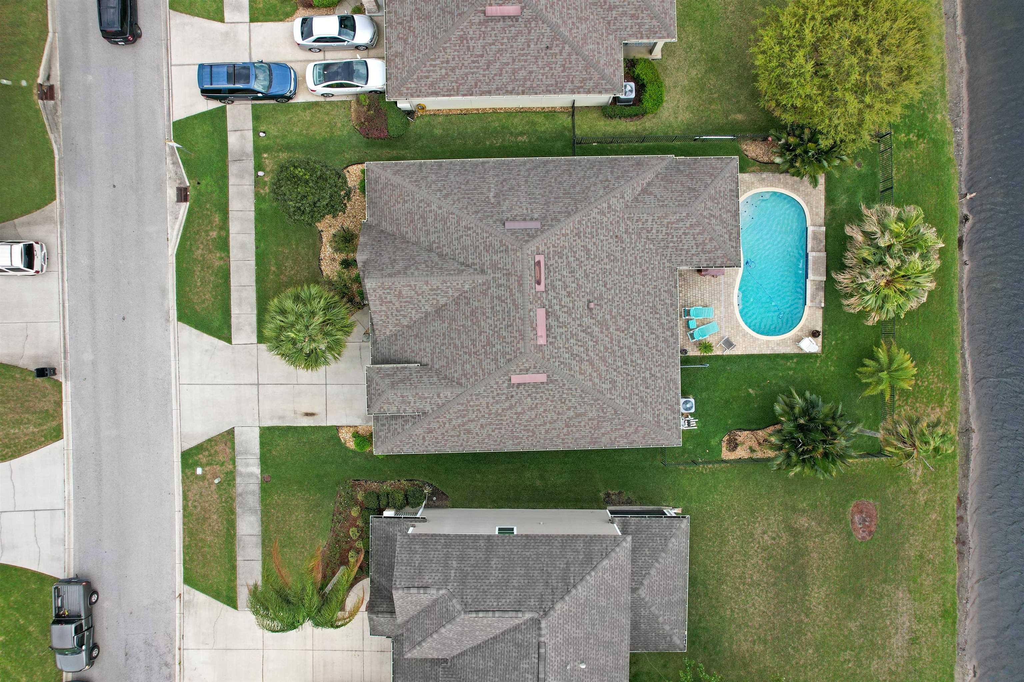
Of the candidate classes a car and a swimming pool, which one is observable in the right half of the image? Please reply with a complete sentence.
It is a swimming pool that can be seen in the right half of the image.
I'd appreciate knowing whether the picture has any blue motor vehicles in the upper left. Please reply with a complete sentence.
Yes, you'll find a blue motor vehicle in the upper left.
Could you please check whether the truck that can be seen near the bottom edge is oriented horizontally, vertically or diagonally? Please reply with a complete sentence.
The truck that can be seen near the bottom edge is oriented vertically.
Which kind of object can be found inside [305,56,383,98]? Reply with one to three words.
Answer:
car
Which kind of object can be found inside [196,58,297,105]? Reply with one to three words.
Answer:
car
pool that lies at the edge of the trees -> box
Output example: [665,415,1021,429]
[734,187,810,340]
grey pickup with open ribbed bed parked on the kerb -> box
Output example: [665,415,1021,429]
[47,572,100,673]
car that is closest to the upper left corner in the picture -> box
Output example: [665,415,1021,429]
[98,0,142,43]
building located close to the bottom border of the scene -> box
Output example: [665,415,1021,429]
[366,498,691,682]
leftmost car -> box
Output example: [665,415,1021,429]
[0,241,50,277]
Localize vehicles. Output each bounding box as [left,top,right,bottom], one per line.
[47,572,100,673]
[98,0,142,43]
[196,58,297,105]
[292,10,377,53]
[0,241,50,277]
[305,56,383,98]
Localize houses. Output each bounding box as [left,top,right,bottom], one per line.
[362,0,679,113]
[356,153,743,457]
[366,498,691,682]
